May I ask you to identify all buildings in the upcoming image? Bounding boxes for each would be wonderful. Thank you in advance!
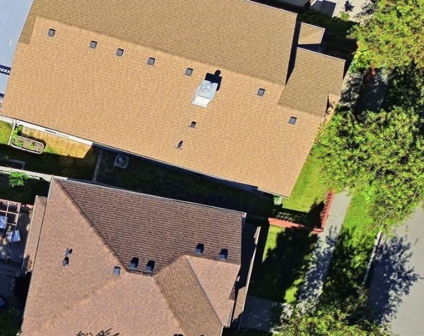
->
[1,0,346,197]
[21,177,261,336]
